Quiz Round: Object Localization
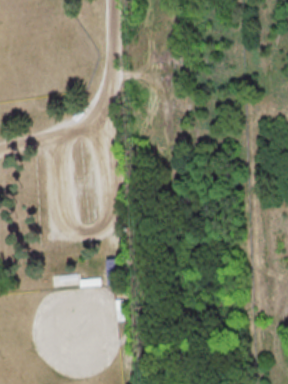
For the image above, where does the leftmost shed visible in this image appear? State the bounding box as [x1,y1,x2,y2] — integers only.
[52,274,80,288]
